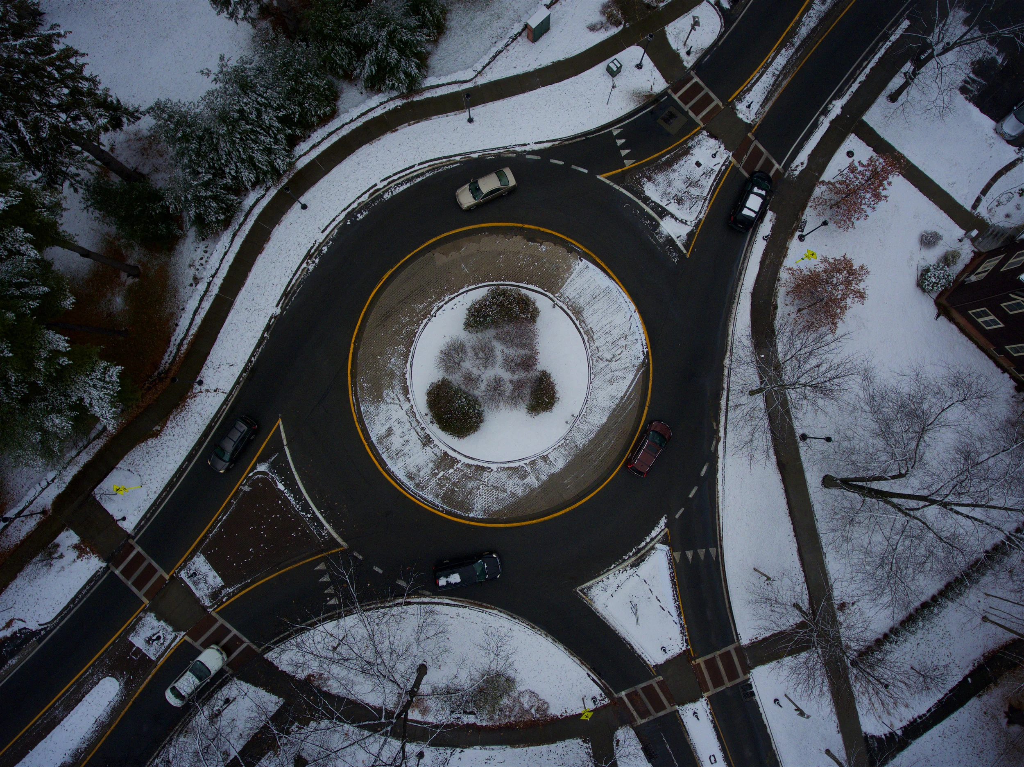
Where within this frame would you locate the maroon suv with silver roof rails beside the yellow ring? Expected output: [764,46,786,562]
[626,420,671,479]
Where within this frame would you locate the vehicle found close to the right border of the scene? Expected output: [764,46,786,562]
[996,96,1024,139]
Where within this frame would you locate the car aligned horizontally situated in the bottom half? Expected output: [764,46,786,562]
[431,554,502,594]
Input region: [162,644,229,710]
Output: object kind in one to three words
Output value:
car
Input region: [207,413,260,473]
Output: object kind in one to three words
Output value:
car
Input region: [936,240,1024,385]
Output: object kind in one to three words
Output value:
house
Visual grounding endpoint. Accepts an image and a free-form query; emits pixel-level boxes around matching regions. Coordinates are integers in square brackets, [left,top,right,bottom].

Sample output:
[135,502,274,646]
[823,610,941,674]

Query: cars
[162,644,229,710]
[207,413,260,473]
[431,554,502,594]
[996,96,1024,139]
[457,167,517,208]
[728,168,773,233]
[626,420,671,479]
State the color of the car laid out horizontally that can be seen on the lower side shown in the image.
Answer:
black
